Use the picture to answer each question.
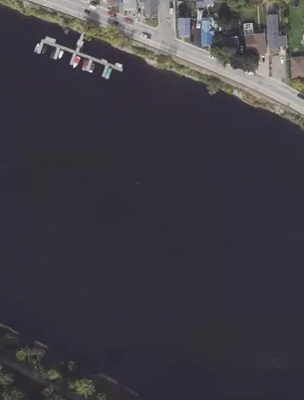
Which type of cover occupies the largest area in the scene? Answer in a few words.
water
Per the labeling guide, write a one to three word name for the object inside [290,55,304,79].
house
